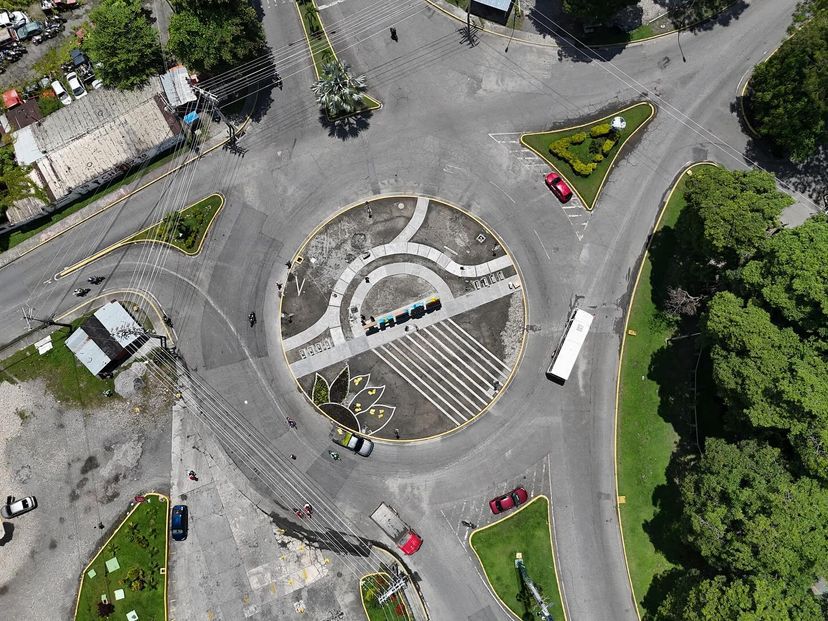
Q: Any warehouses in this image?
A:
Yes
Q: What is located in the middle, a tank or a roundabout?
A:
roundabout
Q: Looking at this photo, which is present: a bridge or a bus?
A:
bus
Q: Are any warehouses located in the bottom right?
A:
No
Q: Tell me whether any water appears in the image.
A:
No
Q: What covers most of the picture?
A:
paved ground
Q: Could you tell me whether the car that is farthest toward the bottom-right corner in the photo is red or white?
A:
red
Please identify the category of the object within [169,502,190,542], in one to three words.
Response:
car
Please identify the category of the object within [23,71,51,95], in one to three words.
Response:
car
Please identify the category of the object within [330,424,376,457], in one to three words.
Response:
truck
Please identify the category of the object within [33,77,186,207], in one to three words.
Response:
warehouse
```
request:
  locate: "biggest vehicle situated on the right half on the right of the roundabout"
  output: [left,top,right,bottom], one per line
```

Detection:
[544,308,595,382]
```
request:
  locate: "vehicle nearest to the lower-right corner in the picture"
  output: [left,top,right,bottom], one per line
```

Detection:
[488,487,529,513]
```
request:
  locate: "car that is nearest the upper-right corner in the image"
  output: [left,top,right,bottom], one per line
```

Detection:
[544,174,572,204]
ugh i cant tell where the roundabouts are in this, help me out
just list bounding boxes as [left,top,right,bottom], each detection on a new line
[279,198,527,446]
